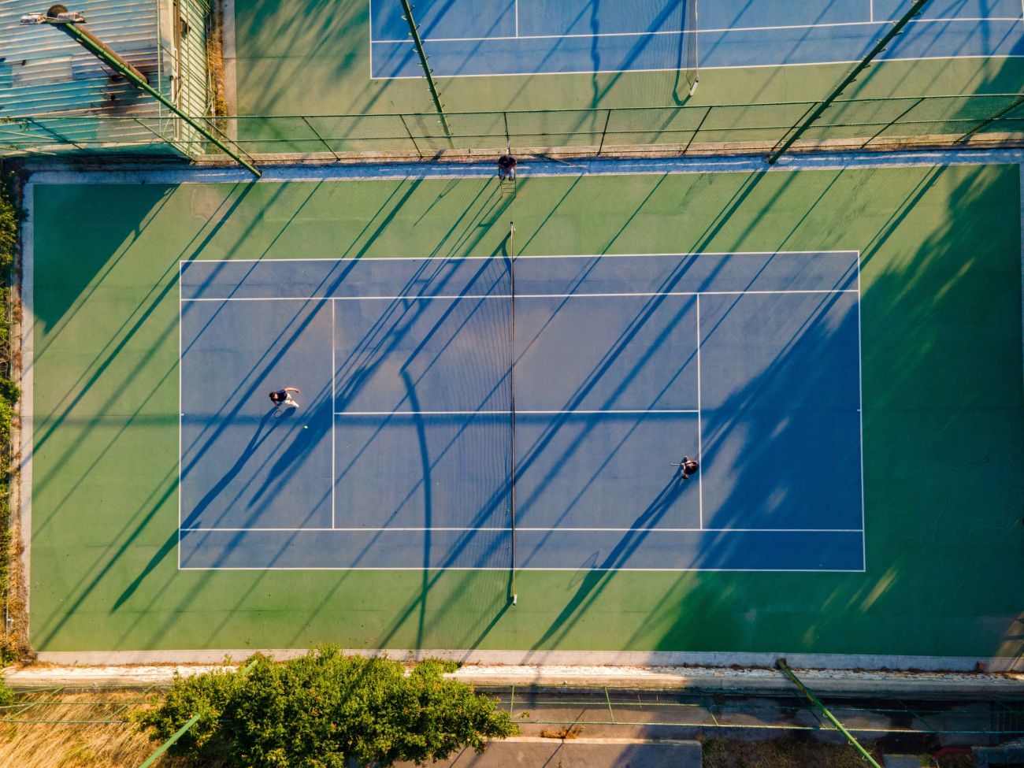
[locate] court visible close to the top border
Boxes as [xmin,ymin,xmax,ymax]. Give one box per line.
[237,0,1024,149]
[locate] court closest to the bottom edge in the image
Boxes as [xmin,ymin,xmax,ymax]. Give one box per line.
[30,166,1024,658]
